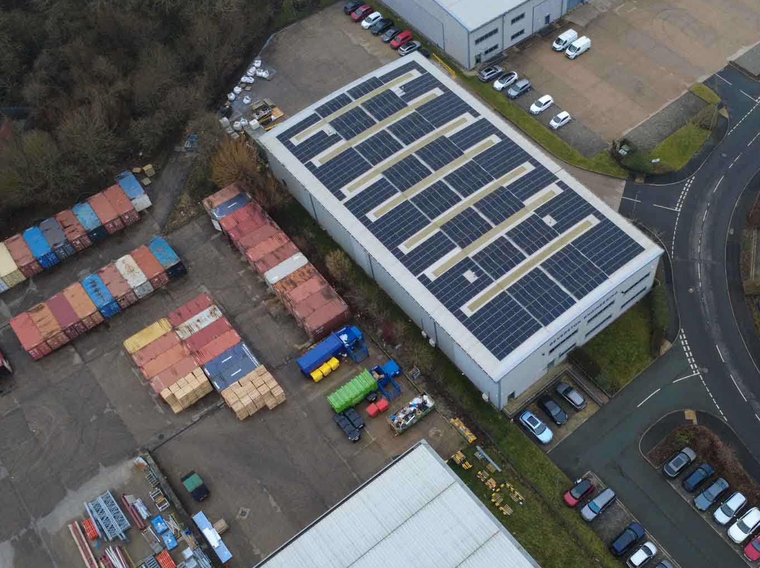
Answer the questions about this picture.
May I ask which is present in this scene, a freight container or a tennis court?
freight container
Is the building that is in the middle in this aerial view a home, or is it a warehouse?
warehouse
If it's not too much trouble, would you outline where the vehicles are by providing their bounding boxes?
[397,40,423,57]
[507,79,531,99]
[369,17,397,38]
[381,27,403,44]
[520,412,552,444]
[730,507,760,541]
[360,10,384,30]
[352,4,374,21]
[567,35,591,59]
[343,0,367,15]
[493,73,519,92]
[745,533,760,560]
[550,112,571,129]
[530,96,554,115]
[419,46,434,58]
[389,29,414,49]
[580,488,616,521]
[714,491,747,524]
[695,478,730,510]
[624,539,661,568]
[565,479,595,506]
[554,28,578,52]
[554,383,588,412]
[654,557,677,568]
[537,395,569,427]
[478,62,504,83]
[610,521,645,556]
